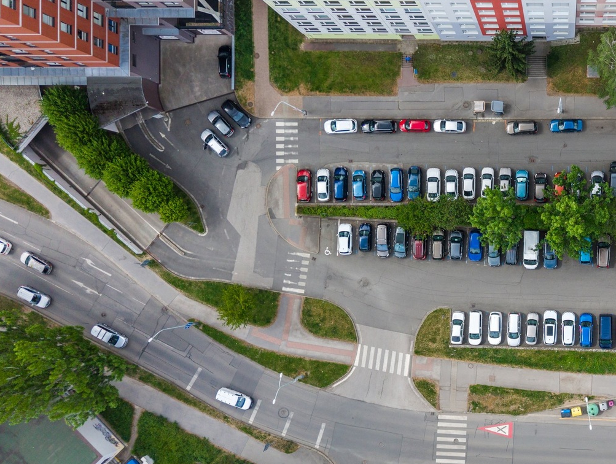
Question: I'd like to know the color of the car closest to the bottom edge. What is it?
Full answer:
From above, the car closest to the bottom edge appears white.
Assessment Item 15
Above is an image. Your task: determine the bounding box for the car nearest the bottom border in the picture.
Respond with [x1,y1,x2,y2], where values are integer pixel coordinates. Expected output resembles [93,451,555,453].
[215,387,254,410]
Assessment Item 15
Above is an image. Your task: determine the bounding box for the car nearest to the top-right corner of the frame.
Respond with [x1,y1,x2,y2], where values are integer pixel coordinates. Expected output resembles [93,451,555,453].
[550,117,583,134]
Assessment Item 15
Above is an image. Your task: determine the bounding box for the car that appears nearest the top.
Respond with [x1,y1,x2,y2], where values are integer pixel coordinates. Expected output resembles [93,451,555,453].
[216,45,234,79]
